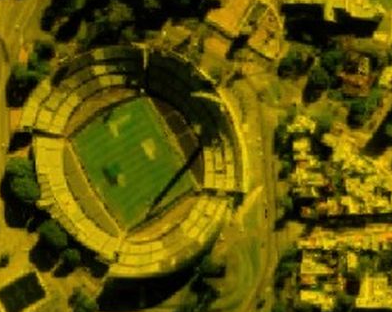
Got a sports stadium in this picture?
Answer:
Yes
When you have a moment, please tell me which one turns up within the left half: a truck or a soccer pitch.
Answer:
soccer pitch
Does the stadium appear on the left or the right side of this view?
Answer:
left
